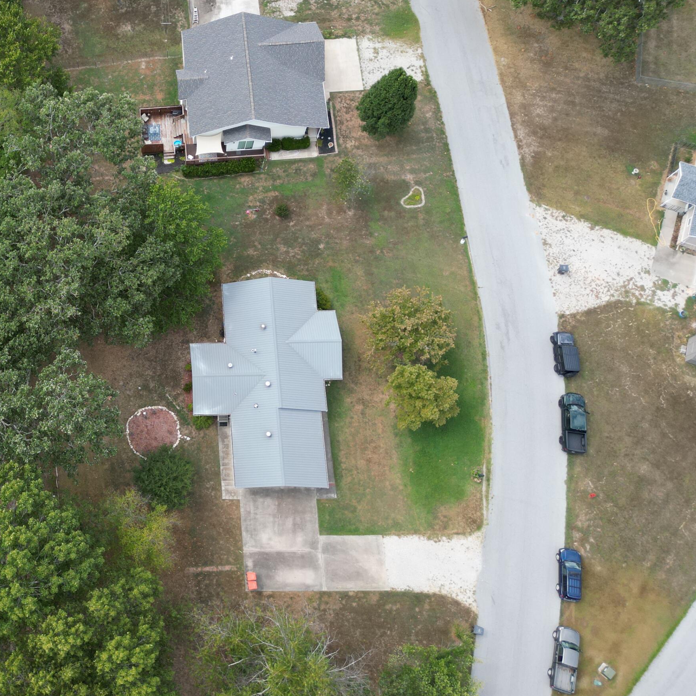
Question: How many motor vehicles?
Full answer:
In total, there are 4 motor vehicles in the scene.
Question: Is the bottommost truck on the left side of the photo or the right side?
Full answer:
The bottommost truck sits on the right side.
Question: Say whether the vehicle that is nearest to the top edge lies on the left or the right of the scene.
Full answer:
The vehicle that is nearest to the top edge appears in the right half of the scene.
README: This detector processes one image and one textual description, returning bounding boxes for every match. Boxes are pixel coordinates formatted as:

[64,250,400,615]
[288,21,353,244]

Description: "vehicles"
[555,548,583,601]
[557,395,587,454]
[549,333,580,376]
[547,624,581,694]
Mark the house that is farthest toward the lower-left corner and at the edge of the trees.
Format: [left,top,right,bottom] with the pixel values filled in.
[190,277,345,488]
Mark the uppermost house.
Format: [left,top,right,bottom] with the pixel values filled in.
[176,12,329,151]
